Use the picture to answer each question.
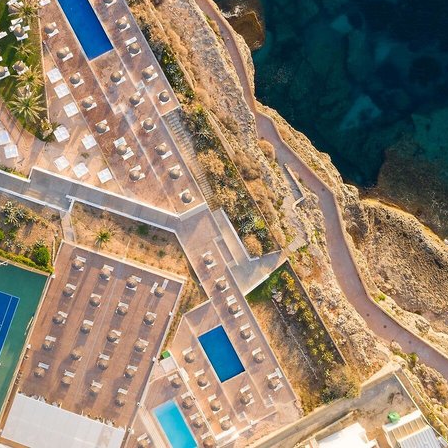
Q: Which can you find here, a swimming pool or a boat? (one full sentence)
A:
Looking from above, you can make out a swimming pool.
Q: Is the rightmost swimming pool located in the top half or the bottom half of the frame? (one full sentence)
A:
The bottom half of the photo is where the rightmost swimming pool is.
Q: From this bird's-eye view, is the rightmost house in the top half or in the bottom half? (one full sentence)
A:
It is in the bottom half that the rightmost house appears.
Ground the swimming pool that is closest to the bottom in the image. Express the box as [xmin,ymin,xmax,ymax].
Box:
[152,398,200,448]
